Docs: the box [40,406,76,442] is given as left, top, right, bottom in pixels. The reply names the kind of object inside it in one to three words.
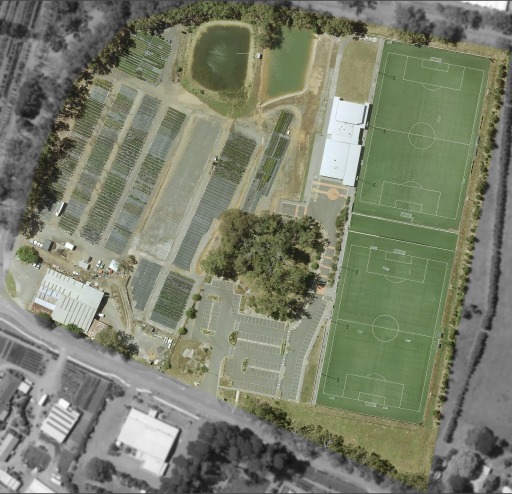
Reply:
greenhouse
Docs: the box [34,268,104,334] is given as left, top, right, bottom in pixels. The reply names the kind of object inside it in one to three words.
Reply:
shed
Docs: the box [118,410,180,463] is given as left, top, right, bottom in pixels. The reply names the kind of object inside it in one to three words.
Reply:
building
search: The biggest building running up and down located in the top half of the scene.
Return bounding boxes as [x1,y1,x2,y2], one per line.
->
[320,96,370,186]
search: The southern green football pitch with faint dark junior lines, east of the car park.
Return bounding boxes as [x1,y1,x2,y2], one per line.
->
[316,232,454,424]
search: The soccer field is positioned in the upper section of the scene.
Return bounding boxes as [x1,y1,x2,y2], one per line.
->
[352,39,491,232]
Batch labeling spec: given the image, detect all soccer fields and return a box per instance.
[316,232,454,424]
[352,39,491,232]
